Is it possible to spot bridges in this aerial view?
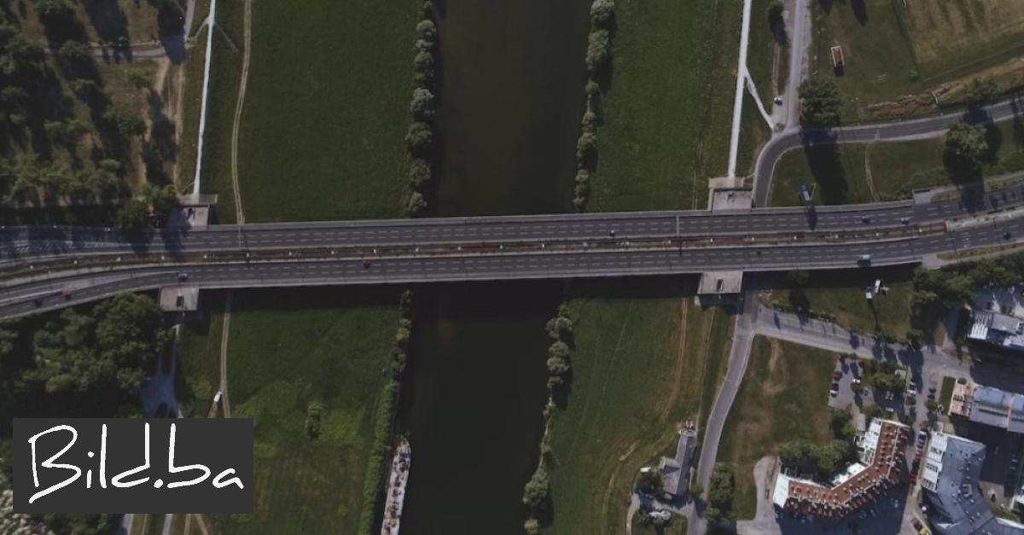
Yes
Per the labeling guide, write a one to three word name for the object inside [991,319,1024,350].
house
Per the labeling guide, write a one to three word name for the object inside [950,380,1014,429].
house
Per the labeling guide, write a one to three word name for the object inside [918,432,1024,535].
building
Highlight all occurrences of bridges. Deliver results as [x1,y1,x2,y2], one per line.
[108,200,916,296]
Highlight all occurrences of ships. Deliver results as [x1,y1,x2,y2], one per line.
[378,438,410,535]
